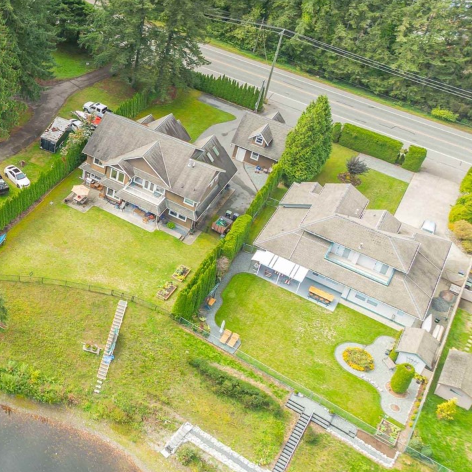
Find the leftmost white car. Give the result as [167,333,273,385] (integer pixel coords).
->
[0,165,34,190]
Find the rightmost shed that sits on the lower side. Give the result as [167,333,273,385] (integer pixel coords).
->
[436,349,472,405]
